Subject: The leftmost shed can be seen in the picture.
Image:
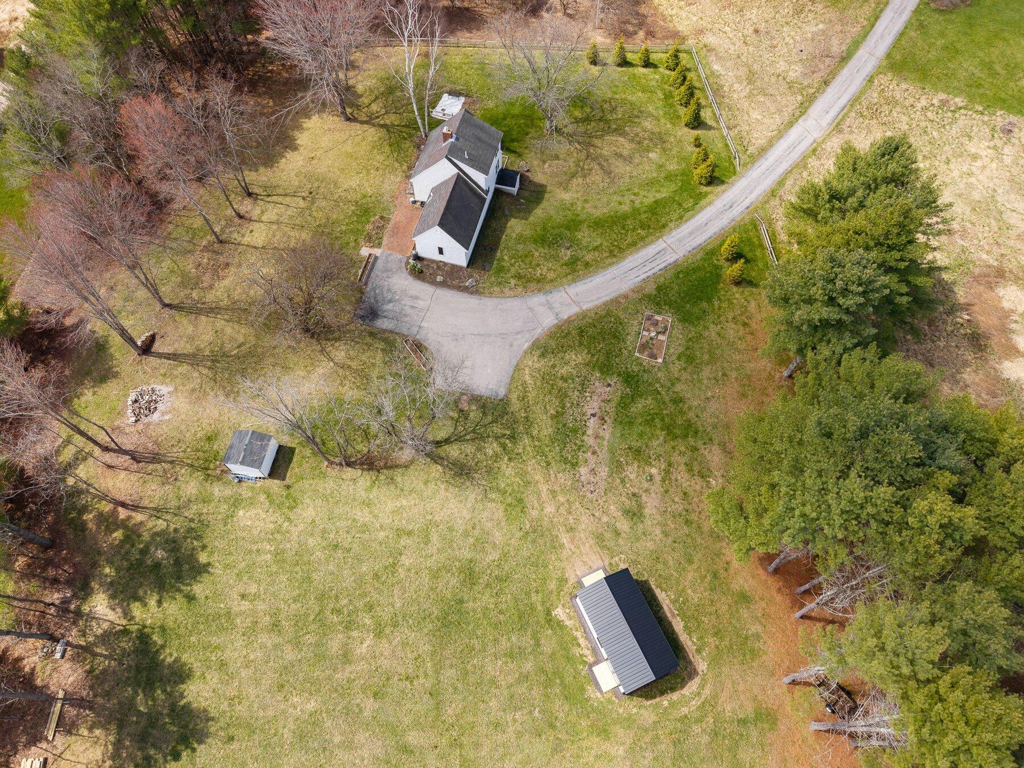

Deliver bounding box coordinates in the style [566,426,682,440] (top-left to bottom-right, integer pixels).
[223,428,278,478]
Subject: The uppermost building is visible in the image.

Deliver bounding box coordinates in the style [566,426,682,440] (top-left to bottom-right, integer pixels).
[409,107,521,266]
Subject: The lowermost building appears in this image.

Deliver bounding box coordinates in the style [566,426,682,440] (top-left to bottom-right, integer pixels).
[576,567,680,694]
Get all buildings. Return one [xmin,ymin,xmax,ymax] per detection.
[409,107,521,266]
[576,567,680,694]
[223,428,278,478]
